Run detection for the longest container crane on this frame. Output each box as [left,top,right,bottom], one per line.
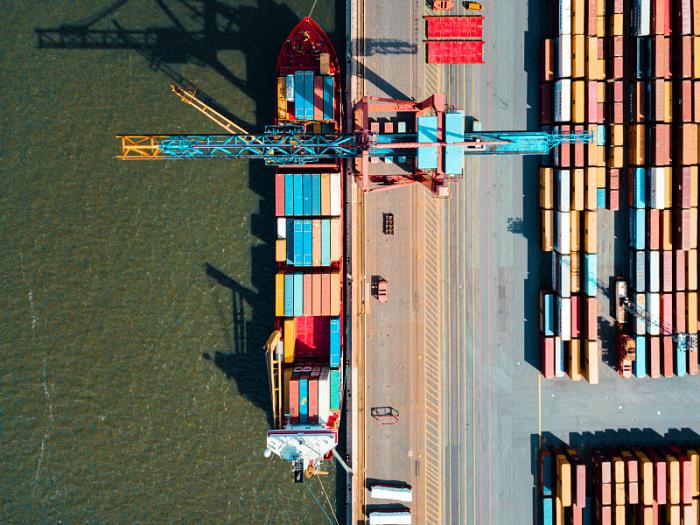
[111,94,597,204]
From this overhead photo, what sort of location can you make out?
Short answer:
port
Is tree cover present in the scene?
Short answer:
No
